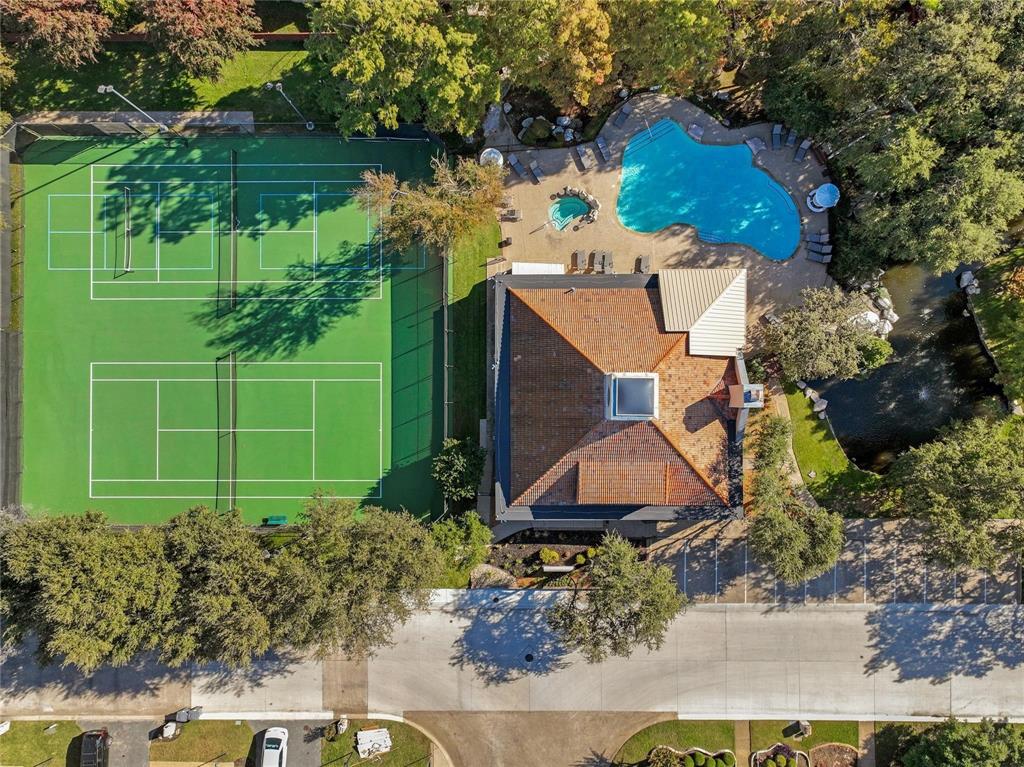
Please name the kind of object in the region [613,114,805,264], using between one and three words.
swimming pool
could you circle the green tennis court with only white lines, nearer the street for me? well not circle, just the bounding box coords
[22,331,443,524]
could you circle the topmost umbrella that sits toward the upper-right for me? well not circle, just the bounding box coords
[810,183,840,207]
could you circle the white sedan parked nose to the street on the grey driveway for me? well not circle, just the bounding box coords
[258,726,287,767]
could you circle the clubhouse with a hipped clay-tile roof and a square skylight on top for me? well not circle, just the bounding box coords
[494,262,767,521]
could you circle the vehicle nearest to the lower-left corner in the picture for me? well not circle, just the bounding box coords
[77,730,110,767]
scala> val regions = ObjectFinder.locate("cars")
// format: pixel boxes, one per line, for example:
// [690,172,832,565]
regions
[77,730,110,767]
[258,726,287,767]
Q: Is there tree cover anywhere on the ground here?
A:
Yes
